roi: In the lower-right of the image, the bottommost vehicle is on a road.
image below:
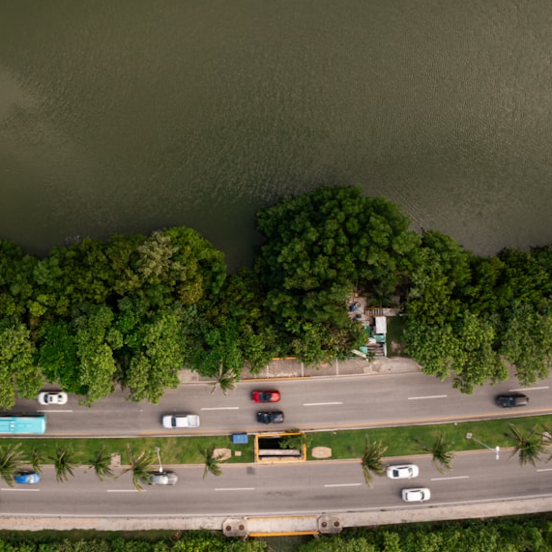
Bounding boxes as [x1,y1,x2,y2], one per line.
[400,487,430,502]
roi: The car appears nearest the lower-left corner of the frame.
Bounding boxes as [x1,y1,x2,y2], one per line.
[14,469,41,485]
